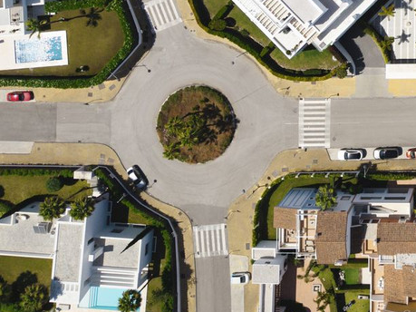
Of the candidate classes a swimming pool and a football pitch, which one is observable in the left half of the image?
swimming pool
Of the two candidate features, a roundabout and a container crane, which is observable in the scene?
roundabout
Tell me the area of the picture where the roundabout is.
center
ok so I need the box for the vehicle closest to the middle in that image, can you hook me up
[126,164,149,190]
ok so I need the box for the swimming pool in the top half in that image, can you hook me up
[0,30,68,70]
